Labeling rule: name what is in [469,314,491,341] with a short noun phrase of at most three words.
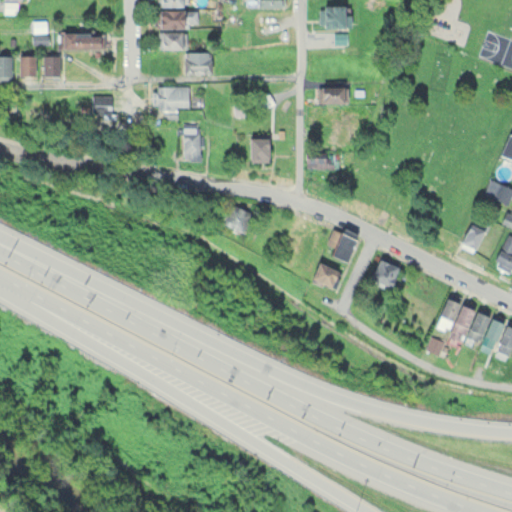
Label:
house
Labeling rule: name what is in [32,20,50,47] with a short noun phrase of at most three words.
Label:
building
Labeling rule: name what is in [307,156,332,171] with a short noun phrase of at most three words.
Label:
house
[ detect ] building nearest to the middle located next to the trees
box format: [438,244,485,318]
[224,210,252,236]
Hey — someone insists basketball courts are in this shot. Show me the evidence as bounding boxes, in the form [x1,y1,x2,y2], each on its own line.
[477,30,512,72]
